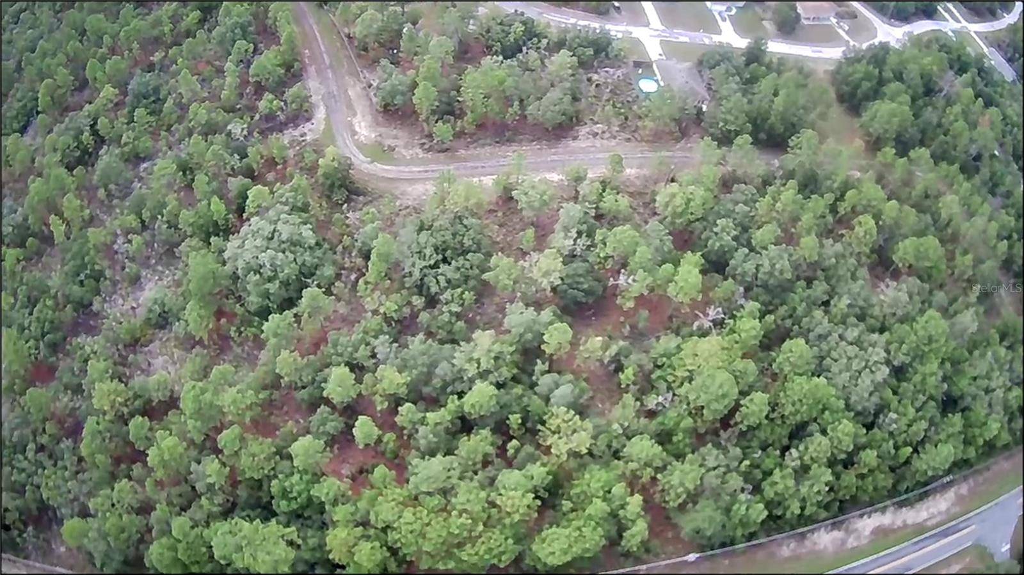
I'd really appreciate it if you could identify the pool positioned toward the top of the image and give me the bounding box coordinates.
[638,76,660,94]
